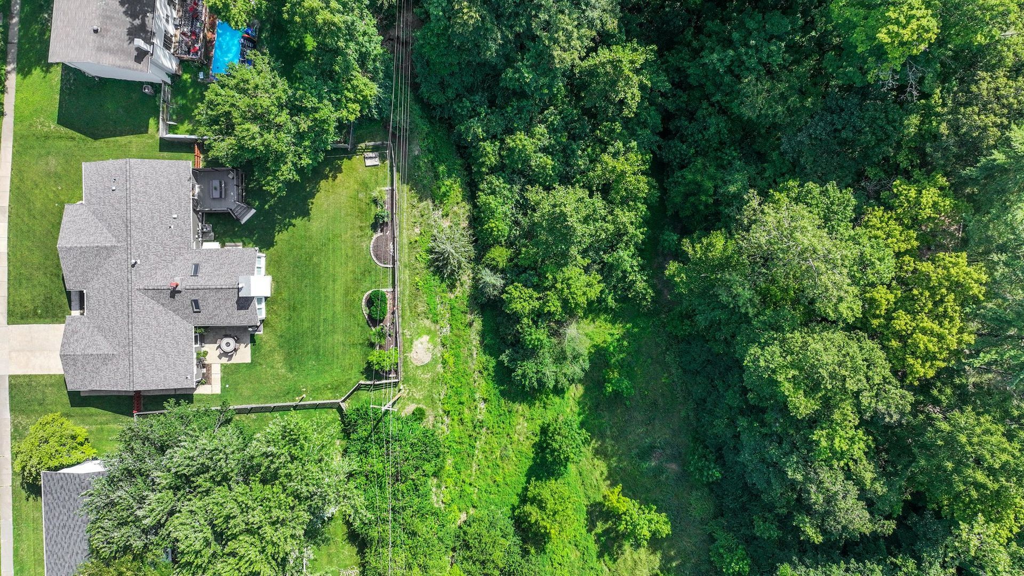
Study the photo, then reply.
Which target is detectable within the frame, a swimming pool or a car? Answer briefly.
swimming pool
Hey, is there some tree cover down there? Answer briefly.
Yes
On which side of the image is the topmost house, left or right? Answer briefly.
left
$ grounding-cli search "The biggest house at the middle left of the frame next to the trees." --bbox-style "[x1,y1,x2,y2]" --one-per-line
[54,158,273,391]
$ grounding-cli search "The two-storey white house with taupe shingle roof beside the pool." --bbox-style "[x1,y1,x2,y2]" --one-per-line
[48,0,192,86]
